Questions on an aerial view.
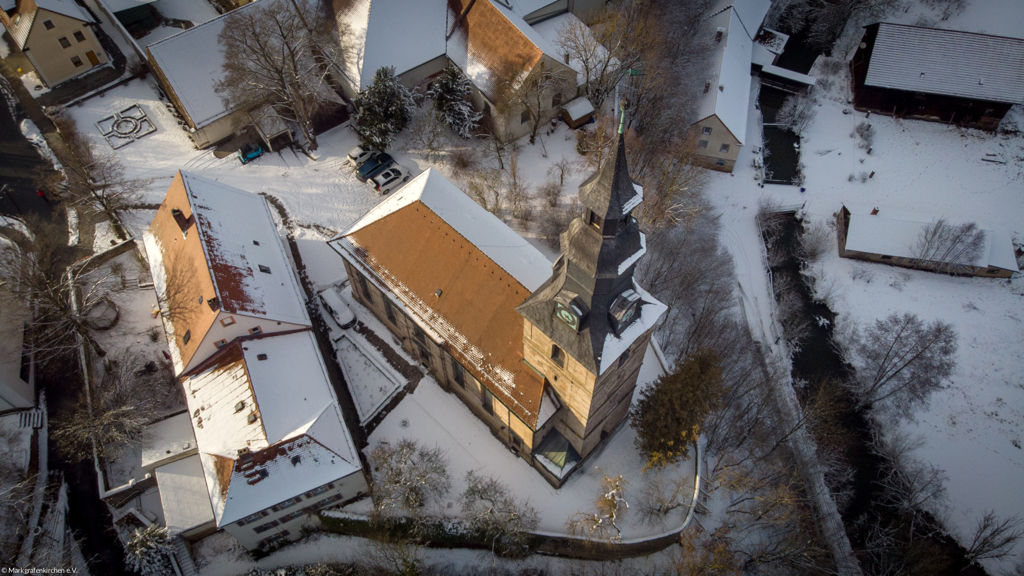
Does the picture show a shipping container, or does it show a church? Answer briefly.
church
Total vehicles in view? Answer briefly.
5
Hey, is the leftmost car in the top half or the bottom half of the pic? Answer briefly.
top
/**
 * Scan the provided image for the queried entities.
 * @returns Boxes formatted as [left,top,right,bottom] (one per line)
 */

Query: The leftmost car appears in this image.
[230,139,268,165]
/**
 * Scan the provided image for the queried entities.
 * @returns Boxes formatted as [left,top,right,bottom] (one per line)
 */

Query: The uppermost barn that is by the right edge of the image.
[853,19,1024,129]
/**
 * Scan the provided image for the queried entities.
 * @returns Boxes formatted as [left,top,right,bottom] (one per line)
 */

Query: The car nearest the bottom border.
[319,285,359,329]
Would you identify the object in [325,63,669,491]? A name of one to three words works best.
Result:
church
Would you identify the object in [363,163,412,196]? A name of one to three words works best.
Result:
car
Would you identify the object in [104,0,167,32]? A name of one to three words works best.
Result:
shed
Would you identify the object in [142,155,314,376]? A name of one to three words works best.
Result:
house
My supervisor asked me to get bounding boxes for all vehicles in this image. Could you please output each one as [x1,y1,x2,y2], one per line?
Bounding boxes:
[363,163,412,196]
[350,154,395,187]
[230,139,268,165]
[341,143,377,168]
[319,285,359,329]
